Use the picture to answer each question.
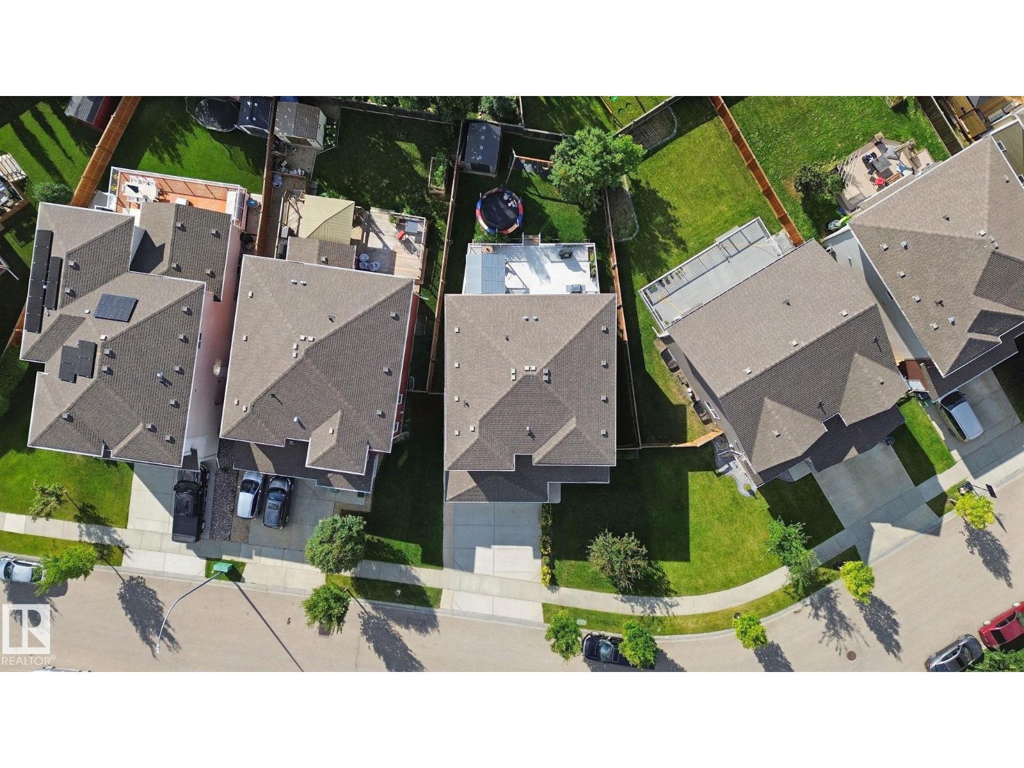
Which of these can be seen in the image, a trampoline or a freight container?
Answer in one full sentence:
The one in the frame is a trampoline.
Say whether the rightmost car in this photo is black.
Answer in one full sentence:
No, the rightmost car is red.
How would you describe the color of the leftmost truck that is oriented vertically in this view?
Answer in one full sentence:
In this view, the leftmost truck that is oriented vertically is black.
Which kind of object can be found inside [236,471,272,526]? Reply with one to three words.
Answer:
car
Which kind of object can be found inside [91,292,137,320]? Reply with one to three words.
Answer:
solar panel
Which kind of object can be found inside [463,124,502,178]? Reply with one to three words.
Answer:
shed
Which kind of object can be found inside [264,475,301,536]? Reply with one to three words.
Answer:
car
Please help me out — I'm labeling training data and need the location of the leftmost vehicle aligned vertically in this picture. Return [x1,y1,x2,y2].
[171,463,214,547]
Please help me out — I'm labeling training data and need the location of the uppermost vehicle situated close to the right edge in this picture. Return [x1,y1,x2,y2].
[927,392,986,451]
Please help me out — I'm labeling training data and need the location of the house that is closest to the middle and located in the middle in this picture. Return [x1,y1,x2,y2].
[443,293,618,503]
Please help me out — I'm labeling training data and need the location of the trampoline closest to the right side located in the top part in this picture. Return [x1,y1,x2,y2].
[476,187,524,236]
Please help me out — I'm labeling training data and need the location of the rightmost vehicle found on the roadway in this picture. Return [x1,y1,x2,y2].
[978,594,1024,645]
